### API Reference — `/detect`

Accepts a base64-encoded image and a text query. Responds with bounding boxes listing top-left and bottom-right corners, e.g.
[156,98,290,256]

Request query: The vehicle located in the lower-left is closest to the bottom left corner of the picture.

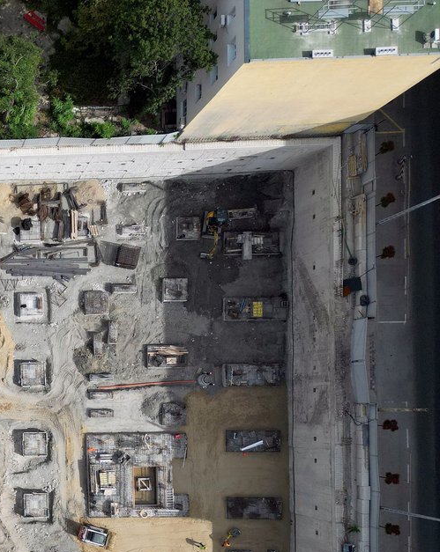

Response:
[69,522,111,547]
